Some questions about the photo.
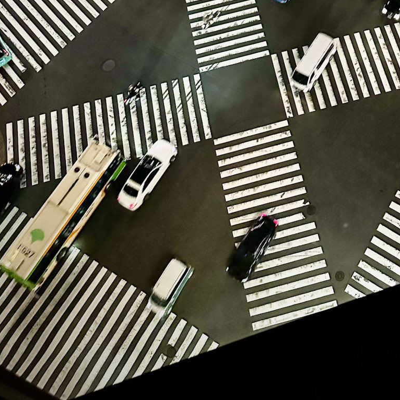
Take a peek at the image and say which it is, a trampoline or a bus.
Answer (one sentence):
Visible in the photo is a bus.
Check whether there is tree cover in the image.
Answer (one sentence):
No, the picture contains no tree cover.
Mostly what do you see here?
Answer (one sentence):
The largest share of the image is taken up by paved ground.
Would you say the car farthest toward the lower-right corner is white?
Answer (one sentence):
No, the car farthest toward the lower-right corner is actually black.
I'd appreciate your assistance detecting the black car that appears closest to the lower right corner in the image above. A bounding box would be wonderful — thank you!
[226,207,282,284]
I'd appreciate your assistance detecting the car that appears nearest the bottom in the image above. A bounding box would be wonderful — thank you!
[150,258,194,315]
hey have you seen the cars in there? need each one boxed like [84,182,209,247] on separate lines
[150,258,194,315]
[291,29,340,92]
[384,0,400,22]
[0,162,30,223]
[0,38,13,66]
[226,207,282,284]
[119,145,174,210]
